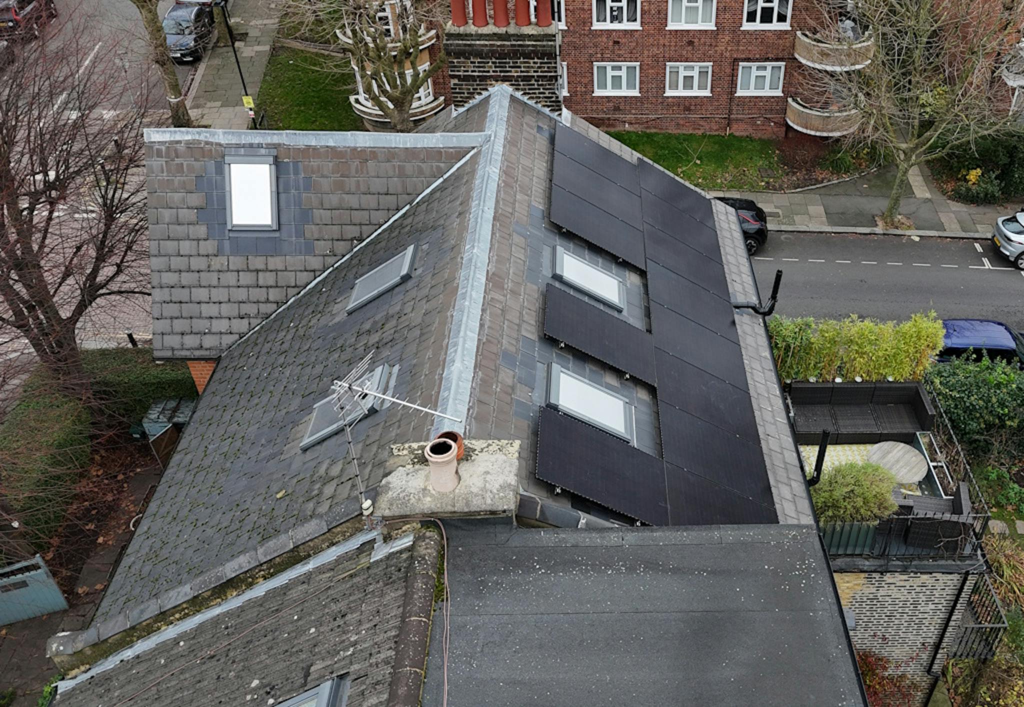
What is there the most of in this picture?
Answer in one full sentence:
The bulk of the photo consists of buildings.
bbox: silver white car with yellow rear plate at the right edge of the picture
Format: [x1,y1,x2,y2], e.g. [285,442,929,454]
[989,201,1024,272]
